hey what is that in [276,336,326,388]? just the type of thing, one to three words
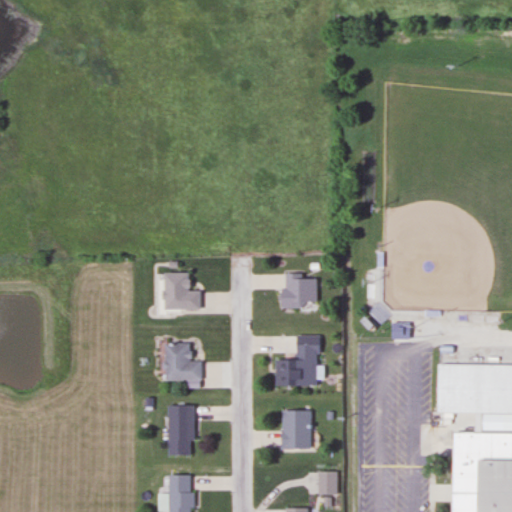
house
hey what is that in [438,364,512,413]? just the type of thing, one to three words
building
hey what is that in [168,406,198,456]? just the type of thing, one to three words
house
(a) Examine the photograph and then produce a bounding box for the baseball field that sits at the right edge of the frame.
[384,84,512,310]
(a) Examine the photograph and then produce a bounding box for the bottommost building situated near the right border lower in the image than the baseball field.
[452,433,512,512]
